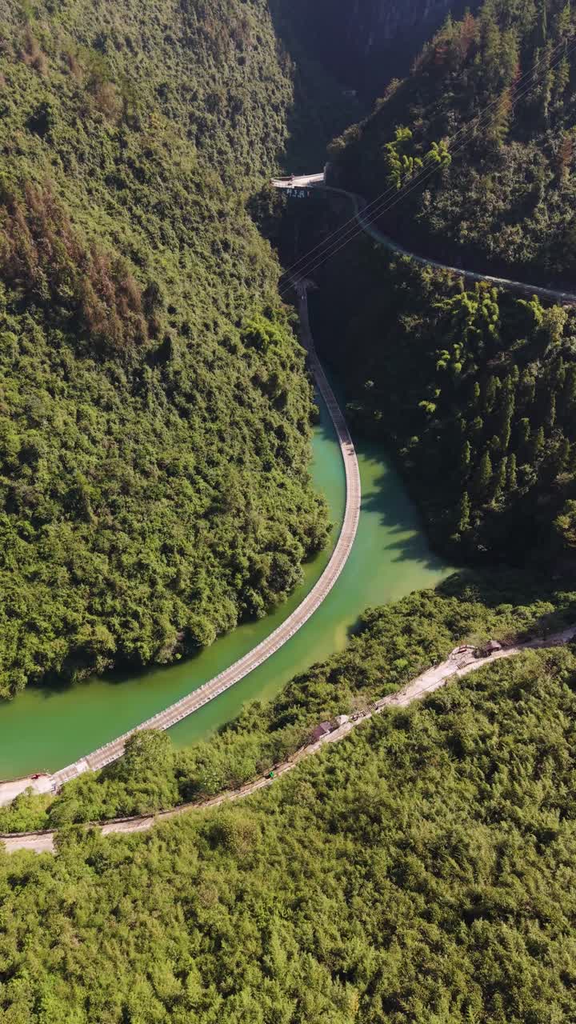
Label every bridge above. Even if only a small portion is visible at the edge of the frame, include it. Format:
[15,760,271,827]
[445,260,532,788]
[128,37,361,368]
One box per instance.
[52,289,361,789]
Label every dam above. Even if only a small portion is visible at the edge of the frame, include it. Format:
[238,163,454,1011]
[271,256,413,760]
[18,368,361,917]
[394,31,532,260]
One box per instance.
[270,183,333,267]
